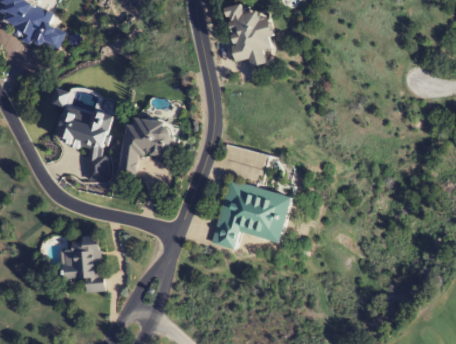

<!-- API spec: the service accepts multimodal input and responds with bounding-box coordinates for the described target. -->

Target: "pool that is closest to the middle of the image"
[142,96,184,124]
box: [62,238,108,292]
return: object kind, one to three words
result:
house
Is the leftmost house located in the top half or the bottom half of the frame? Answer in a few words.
top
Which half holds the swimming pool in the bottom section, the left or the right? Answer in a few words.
left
